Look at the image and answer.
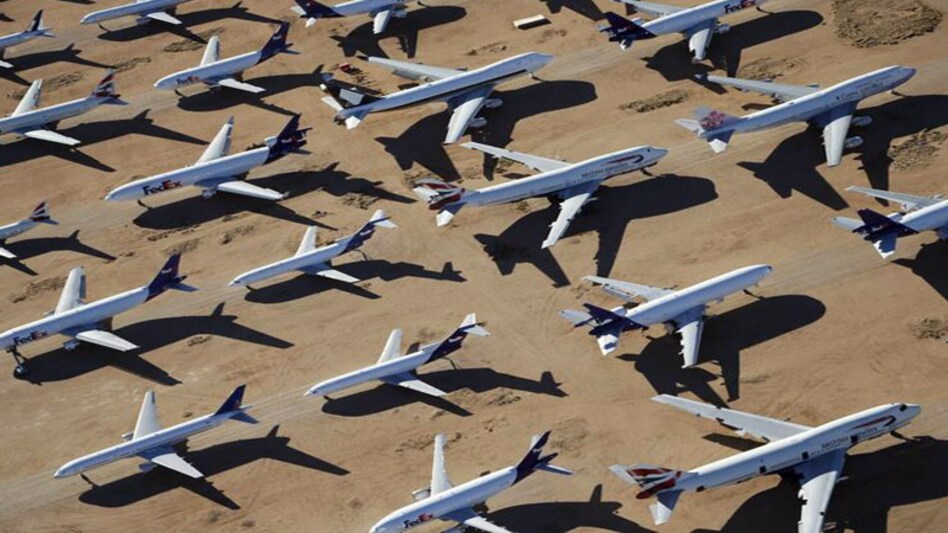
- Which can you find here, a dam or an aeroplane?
aeroplane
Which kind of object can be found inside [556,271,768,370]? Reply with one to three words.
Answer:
airplane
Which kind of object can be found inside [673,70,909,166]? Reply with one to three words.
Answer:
airplane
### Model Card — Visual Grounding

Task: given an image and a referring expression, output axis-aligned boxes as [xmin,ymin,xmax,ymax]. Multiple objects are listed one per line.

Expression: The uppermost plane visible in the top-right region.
[600,0,788,61]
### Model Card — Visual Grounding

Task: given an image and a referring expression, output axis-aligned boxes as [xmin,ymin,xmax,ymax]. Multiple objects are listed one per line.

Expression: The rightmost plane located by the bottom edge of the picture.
[607,396,918,533]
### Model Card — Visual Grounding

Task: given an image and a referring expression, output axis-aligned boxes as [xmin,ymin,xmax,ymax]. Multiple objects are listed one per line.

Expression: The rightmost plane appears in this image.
[830,185,948,257]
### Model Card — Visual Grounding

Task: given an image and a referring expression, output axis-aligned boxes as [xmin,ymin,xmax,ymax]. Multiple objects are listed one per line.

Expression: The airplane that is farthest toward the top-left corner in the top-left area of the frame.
[0,11,56,51]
